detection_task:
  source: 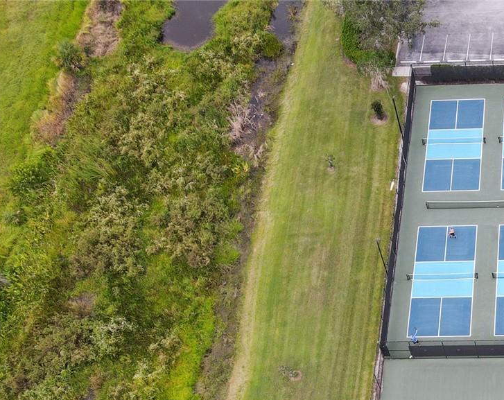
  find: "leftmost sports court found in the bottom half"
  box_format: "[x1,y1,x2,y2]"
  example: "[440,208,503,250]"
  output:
[406,224,478,337]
